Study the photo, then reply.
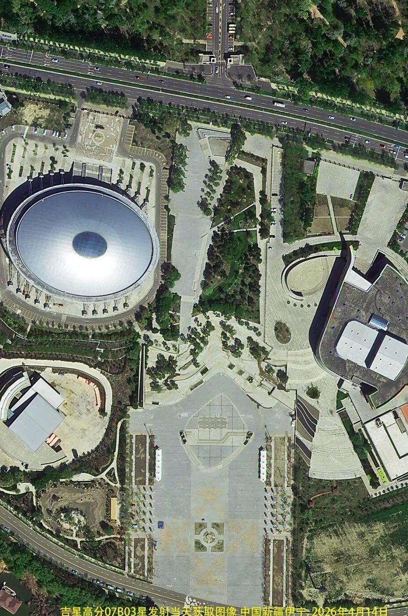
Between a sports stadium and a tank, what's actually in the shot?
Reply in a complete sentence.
Of the two, only a sports stadium appears.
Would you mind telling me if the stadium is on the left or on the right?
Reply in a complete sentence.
It is on the left.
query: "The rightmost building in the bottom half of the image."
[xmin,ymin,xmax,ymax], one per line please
[363,403,408,482]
